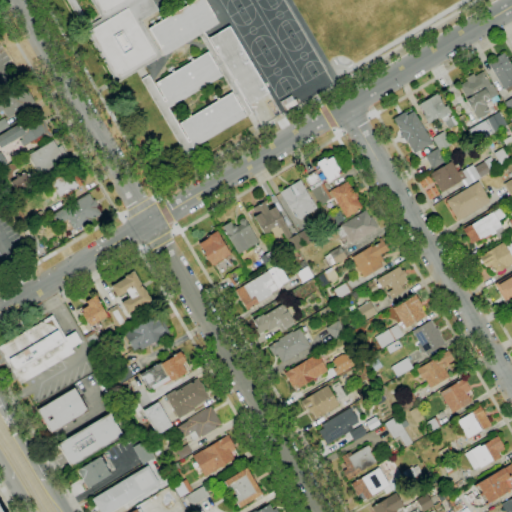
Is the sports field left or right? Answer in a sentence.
The sports field is on the right side of the image.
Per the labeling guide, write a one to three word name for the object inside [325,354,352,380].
building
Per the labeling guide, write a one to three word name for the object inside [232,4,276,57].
basketball court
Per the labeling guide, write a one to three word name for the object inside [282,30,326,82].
basketball court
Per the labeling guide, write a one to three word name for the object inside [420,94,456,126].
house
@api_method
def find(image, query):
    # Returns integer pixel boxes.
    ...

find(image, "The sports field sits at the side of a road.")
[298,0,456,61]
